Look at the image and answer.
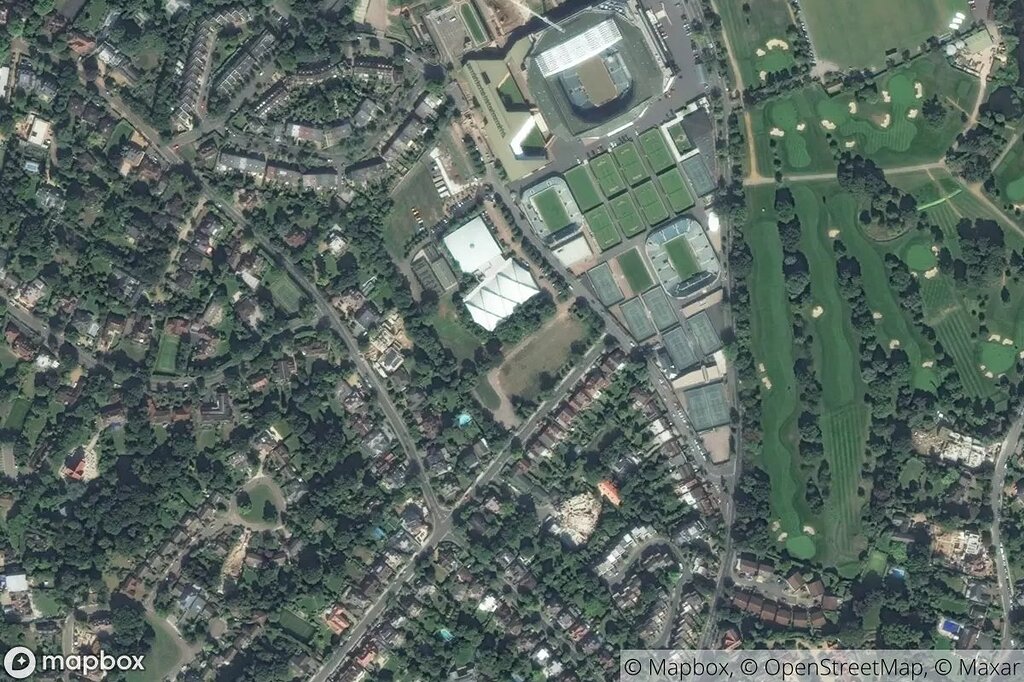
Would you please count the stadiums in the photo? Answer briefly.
3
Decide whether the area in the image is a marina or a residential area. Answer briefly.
residential area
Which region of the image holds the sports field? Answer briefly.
top right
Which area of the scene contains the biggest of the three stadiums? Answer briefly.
top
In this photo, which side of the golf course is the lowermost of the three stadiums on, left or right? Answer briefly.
left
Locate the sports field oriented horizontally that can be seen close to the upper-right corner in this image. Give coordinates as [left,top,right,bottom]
[808,0,975,68]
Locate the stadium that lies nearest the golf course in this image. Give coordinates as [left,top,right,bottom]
[645,215,722,299]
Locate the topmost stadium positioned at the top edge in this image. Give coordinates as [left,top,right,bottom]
[526,6,667,137]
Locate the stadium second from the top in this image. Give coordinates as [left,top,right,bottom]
[520,176,584,246]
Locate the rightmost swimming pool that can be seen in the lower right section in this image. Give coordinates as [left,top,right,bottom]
[942,619,960,635]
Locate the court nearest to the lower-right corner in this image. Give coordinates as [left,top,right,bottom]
[683,382,730,431]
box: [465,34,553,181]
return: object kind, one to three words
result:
building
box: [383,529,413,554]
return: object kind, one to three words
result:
house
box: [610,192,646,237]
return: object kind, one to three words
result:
tennis court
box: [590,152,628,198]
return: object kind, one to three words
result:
tennis court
